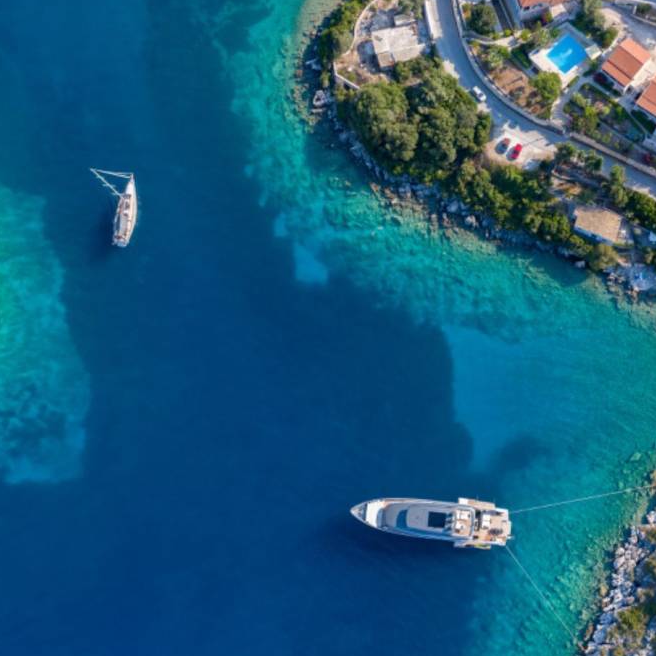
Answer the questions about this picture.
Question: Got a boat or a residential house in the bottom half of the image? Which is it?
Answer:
boat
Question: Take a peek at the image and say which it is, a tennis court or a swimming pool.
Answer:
swimming pool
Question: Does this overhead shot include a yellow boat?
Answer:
No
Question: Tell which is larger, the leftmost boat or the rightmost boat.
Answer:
the rightmost boat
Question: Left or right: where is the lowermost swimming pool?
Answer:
right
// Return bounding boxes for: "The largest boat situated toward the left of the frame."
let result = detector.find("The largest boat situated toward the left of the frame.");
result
[90,171,137,247]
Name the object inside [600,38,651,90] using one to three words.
house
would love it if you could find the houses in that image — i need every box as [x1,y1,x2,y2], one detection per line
[515,0,567,23]
[574,208,621,243]
[634,77,656,122]
[372,15,425,70]
[600,38,651,90]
